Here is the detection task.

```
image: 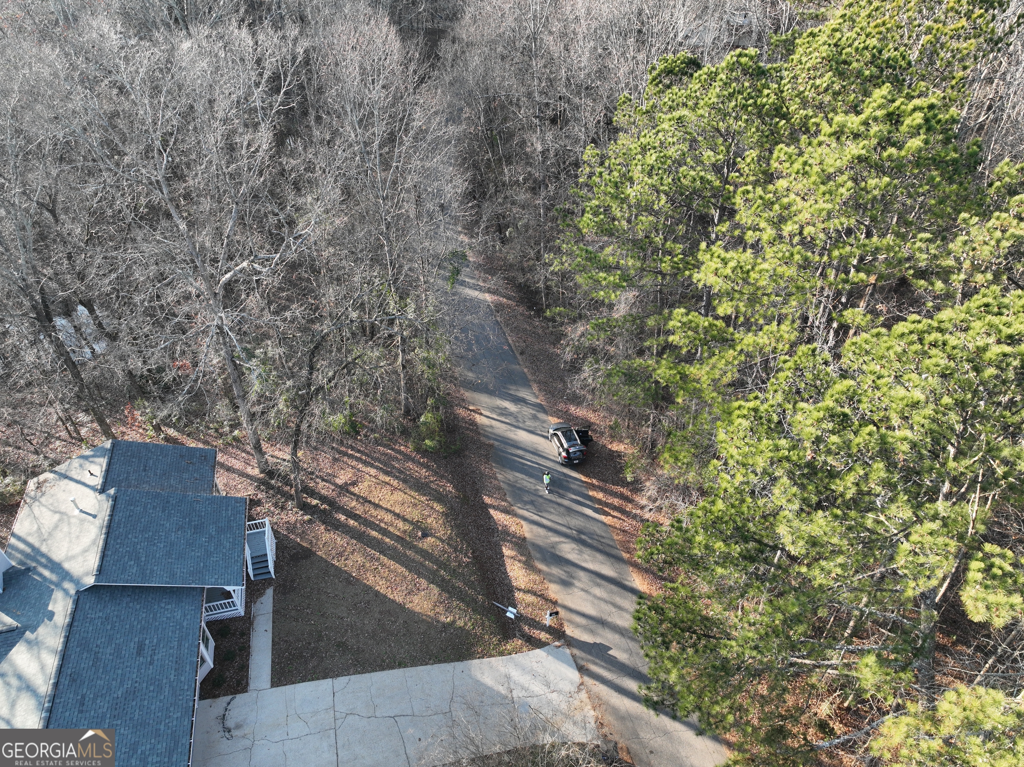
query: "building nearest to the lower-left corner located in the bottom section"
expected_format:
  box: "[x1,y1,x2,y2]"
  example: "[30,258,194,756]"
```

[0,436,275,767]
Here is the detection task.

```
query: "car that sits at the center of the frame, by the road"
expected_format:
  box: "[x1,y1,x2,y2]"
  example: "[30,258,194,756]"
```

[547,419,598,470]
